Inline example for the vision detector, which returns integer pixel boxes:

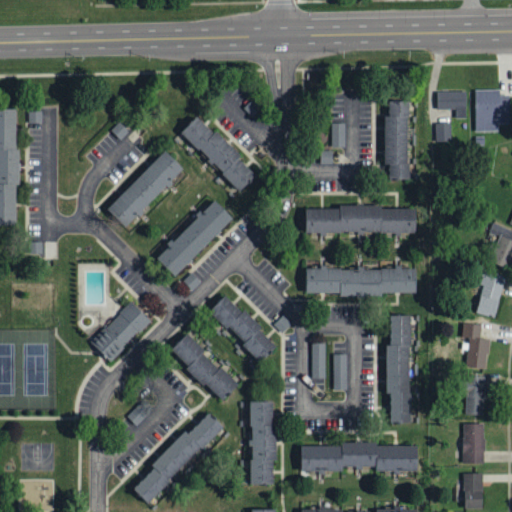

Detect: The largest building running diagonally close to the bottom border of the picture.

[133,413,224,506]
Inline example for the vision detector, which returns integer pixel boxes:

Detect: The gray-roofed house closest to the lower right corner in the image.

[464,473,484,510]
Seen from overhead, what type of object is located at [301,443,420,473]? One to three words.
building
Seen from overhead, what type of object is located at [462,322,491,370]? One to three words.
house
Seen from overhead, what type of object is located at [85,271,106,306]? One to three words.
swimming pool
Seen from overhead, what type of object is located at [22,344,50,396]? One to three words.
tennis court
